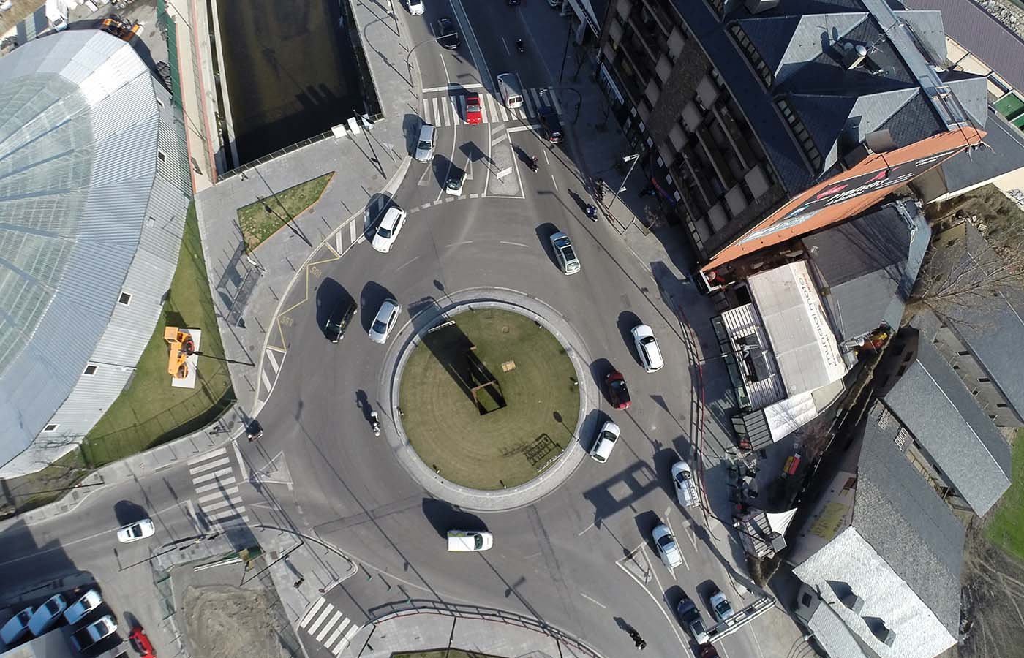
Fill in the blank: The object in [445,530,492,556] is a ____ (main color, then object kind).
white vehicle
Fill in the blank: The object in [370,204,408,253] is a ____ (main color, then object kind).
white car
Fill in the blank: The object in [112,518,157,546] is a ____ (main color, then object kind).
white car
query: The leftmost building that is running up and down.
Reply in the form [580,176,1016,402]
[0,27,192,482]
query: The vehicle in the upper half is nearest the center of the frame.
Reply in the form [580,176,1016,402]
[551,231,579,275]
